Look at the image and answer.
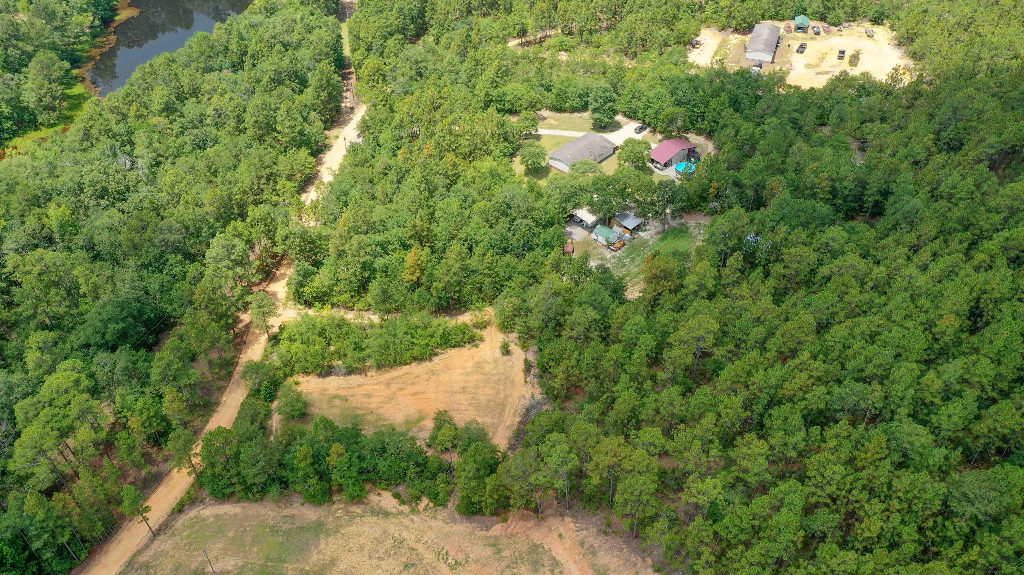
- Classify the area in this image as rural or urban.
rural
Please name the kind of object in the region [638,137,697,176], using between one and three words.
barn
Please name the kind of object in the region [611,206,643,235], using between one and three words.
barn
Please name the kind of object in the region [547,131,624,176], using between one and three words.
house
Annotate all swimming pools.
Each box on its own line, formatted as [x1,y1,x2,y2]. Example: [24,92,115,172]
[674,159,697,174]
